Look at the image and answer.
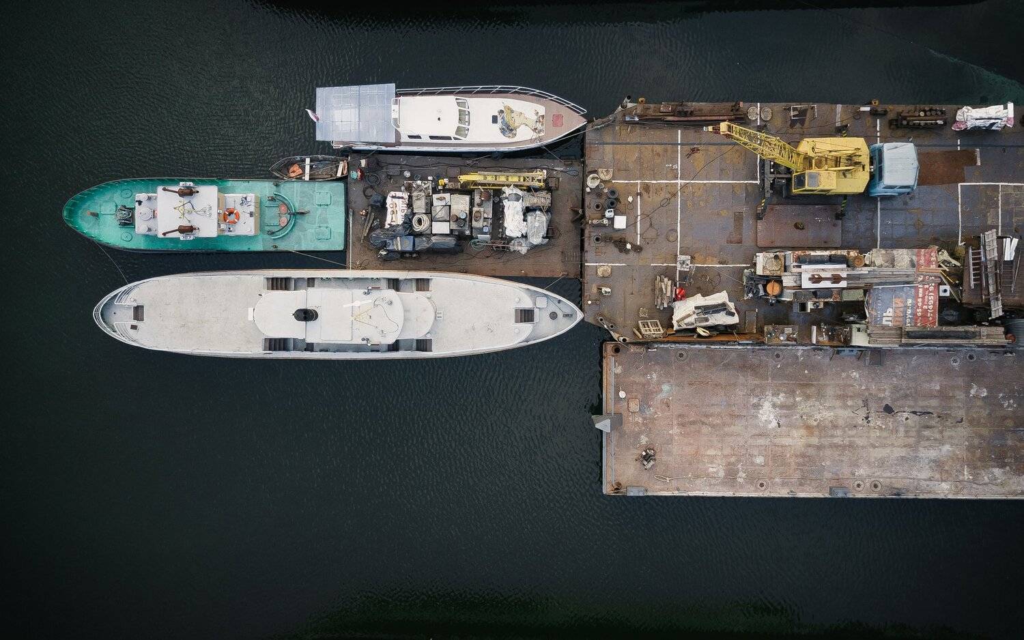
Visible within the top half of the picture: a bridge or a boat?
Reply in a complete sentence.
The one visible within the top half of the picture is a boat.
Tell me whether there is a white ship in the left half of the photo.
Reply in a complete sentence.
Yes, there is a white ship in the left half of the photo.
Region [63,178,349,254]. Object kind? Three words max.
boat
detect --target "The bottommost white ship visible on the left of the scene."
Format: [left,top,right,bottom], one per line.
[92,269,584,360]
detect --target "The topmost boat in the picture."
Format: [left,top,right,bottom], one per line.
[306,84,588,160]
